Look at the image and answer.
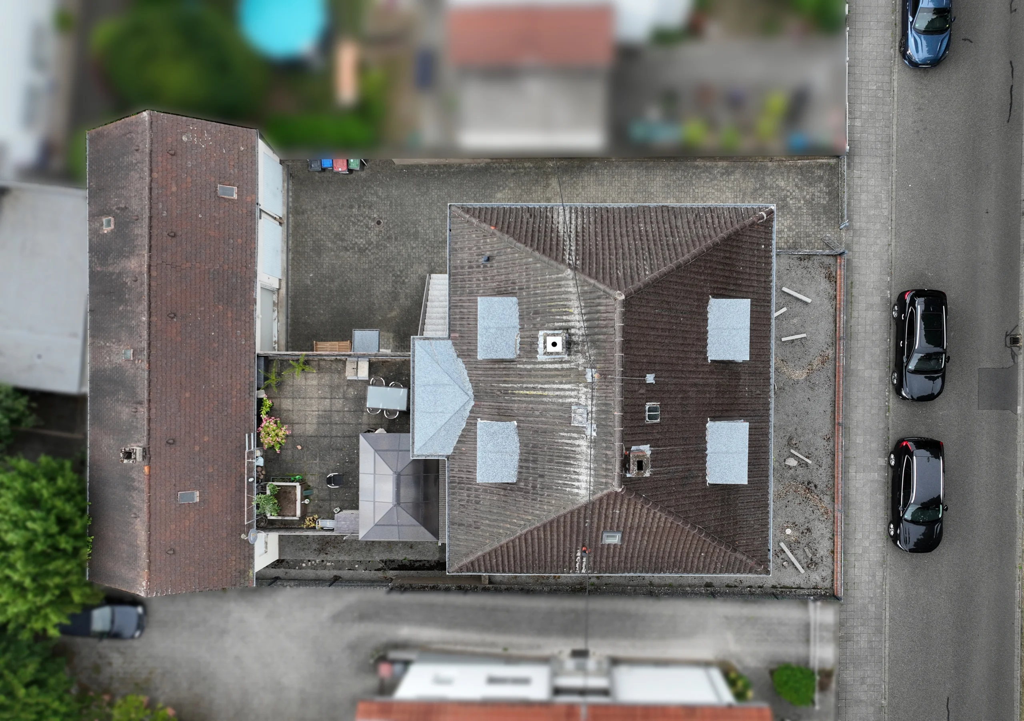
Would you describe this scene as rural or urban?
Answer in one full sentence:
The area is urban.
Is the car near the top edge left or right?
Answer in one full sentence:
The car near the top edge sits on the right side.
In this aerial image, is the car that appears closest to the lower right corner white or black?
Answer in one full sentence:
In this view, the car that appears closest to the lower right corner is black.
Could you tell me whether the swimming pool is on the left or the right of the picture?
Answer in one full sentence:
It is on the left.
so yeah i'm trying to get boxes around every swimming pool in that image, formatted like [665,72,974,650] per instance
[236,0,337,73]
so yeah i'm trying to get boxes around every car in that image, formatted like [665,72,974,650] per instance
[897,0,961,73]
[886,436,951,554]
[888,289,954,402]
[28,595,142,653]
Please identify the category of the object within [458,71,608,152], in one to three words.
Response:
building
